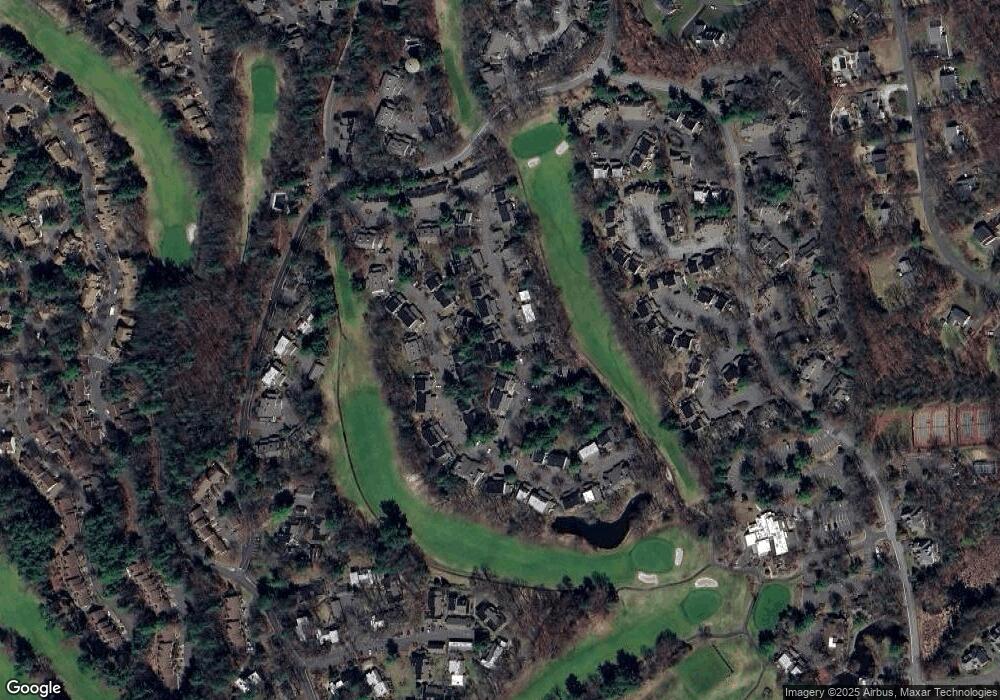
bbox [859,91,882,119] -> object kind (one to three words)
house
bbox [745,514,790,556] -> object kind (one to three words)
building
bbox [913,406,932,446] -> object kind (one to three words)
tennis court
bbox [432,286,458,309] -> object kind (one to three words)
house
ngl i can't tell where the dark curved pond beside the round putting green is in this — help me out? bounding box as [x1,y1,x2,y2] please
[550,491,653,551]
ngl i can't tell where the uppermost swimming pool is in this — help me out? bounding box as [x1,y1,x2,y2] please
[835,54,849,70]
